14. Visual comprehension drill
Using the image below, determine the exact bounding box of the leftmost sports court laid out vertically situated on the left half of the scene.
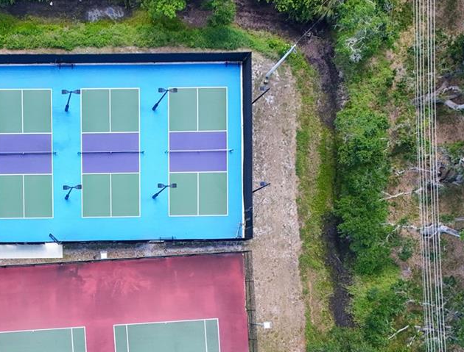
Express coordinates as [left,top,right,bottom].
[0,89,54,219]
